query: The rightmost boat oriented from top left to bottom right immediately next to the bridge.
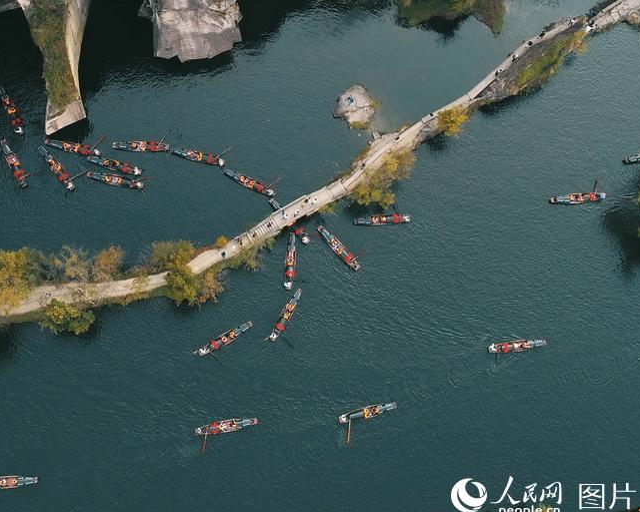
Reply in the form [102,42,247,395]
[316,224,362,273]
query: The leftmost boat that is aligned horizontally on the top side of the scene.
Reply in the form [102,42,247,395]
[44,140,103,157]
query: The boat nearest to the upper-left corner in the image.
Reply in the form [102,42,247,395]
[0,86,26,136]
